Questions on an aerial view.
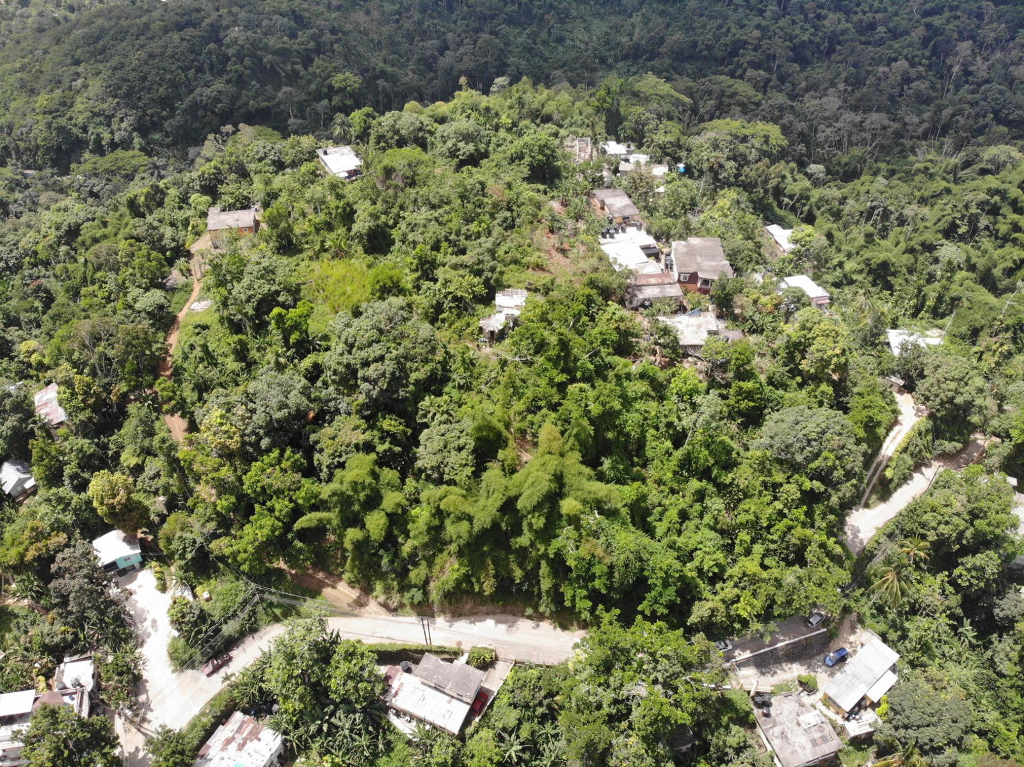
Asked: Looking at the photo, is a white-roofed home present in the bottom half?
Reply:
Yes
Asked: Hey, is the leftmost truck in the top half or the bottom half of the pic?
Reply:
bottom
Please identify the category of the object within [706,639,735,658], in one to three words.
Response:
car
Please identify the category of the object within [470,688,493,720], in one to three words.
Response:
car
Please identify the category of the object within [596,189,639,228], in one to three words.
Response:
house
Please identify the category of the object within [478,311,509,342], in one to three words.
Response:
shed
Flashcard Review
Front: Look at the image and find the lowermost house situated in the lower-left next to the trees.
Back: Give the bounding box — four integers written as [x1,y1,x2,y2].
[200,711,283,767]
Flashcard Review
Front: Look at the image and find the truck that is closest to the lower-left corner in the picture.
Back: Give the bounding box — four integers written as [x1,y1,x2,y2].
[199,648,237,680]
